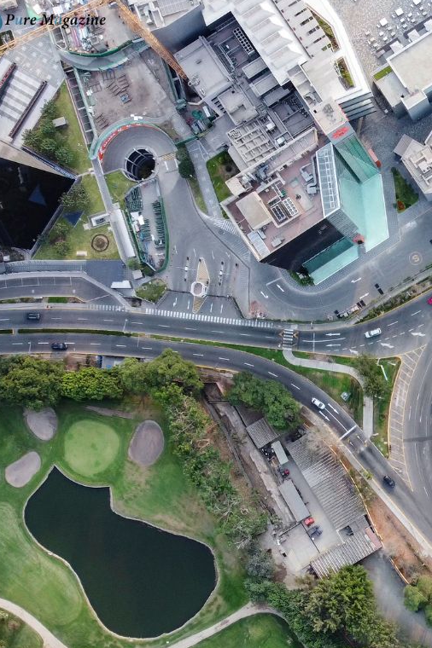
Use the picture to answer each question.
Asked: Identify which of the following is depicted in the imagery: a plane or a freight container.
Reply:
freight container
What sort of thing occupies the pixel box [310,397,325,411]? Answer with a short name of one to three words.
car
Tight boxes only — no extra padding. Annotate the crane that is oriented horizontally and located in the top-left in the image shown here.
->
[0,0,183,55]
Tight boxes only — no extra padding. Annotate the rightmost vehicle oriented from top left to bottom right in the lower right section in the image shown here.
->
[382,474,396,488]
